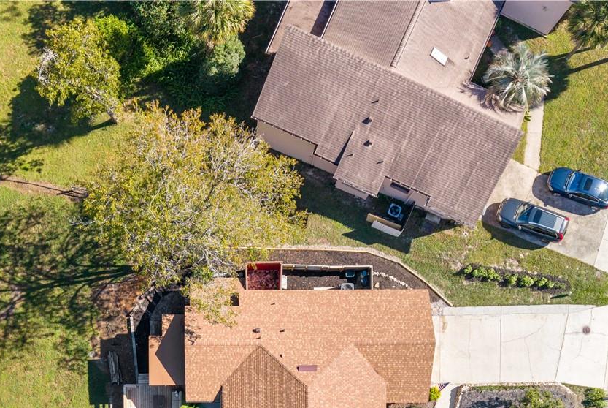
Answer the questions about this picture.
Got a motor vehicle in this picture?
Yes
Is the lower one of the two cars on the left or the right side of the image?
right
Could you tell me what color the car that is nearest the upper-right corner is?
blue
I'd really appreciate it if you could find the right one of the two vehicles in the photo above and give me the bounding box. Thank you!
[548,167,608,214]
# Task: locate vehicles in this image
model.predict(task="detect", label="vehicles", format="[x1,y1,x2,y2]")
[498,200,579,245]
[548,167,608,214]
